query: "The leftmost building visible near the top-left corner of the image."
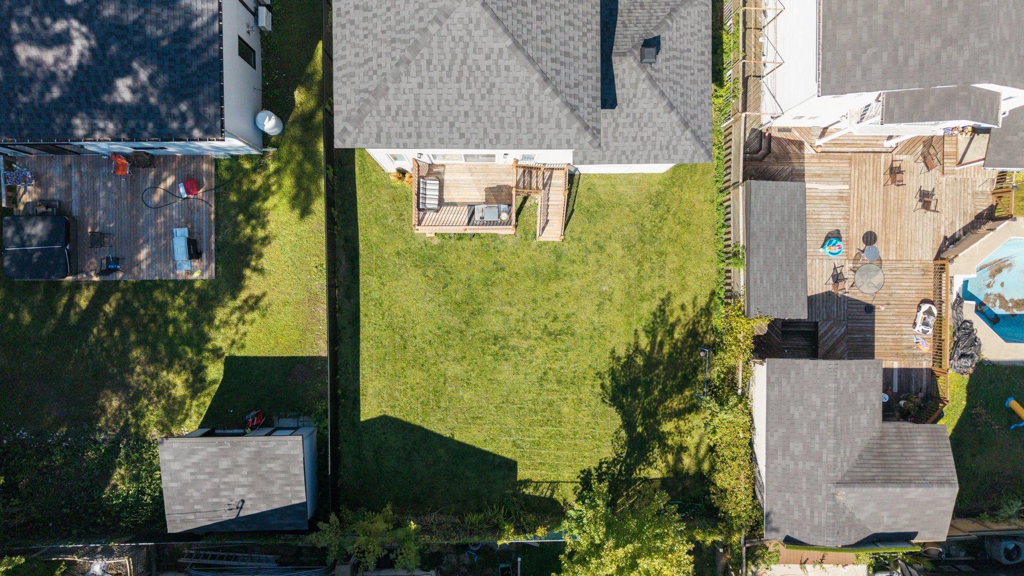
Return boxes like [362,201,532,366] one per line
[0,0,264,156]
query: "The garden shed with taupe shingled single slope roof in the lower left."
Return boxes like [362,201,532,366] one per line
[158,420,317,533]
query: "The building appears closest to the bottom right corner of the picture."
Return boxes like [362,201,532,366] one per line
[751,358,959,548]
